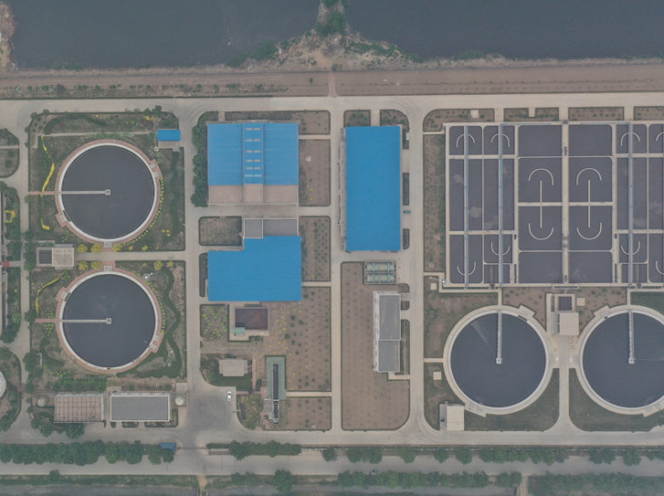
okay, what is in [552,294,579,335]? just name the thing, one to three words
building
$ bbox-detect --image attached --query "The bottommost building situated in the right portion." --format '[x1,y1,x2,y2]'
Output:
[439,401,465,432]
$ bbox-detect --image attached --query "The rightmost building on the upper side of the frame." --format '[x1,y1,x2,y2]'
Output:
[337,124,403,252]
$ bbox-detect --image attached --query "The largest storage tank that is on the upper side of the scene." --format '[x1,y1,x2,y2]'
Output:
[55,139,163,249]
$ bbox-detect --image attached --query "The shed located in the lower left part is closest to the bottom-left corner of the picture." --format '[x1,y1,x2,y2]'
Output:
[55,393,104,422]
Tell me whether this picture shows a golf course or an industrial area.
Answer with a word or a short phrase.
industrial area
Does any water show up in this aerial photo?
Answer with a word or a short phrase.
Yes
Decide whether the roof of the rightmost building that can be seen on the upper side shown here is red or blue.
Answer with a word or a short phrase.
blue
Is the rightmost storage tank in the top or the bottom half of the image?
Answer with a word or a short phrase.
bottom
